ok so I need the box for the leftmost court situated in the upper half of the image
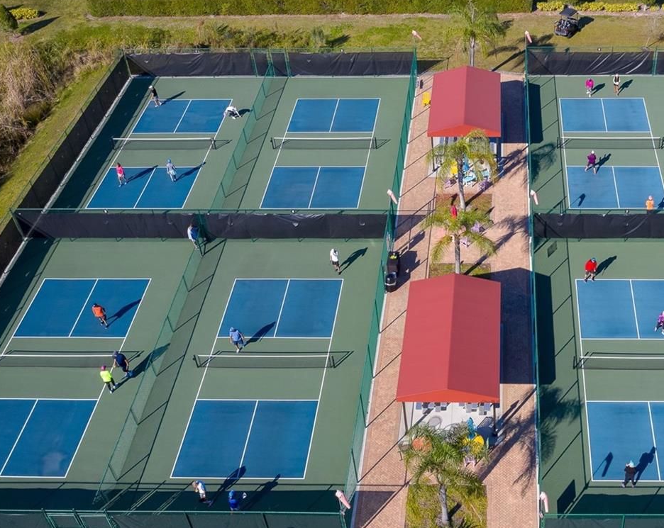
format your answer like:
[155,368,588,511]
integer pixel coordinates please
[30,77,274,238]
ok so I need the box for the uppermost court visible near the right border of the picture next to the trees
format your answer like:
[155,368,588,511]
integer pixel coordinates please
[528,75,664,213]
